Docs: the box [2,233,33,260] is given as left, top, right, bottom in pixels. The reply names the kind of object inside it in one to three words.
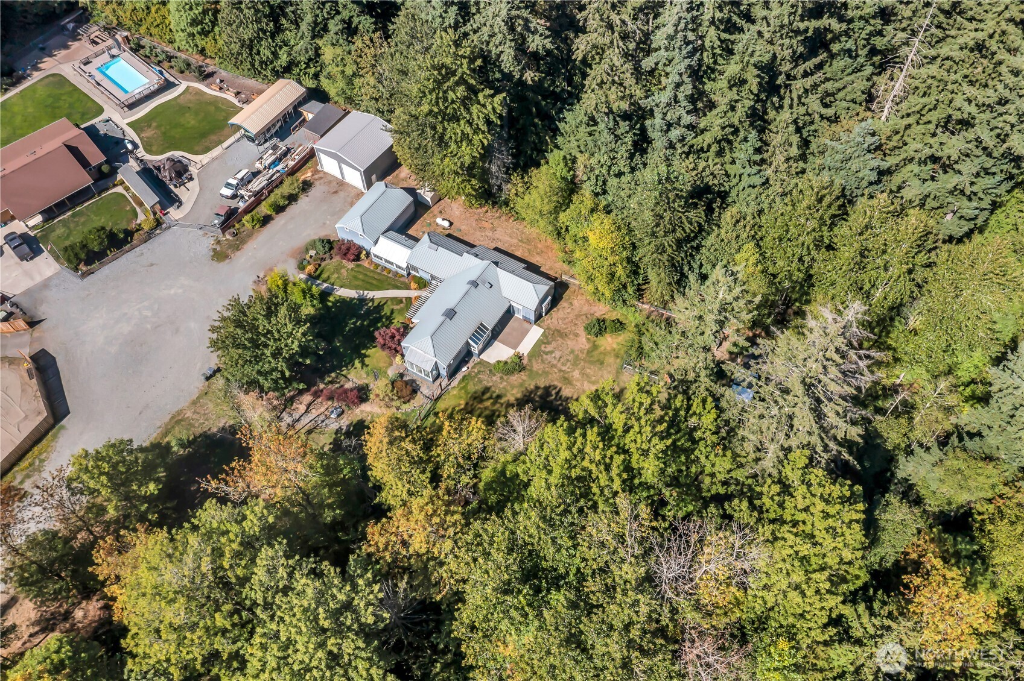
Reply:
truck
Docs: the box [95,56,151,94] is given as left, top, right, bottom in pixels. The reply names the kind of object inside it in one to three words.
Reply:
swimming pool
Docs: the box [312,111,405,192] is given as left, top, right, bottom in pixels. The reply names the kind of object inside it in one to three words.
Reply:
building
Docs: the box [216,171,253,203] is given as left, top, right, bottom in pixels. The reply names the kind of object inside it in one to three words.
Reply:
truck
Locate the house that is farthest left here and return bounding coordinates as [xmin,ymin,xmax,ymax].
[0,117,110,244]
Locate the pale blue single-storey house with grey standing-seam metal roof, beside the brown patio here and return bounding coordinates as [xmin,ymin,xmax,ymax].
[401,231,555,382]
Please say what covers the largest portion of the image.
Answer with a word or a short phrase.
trees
